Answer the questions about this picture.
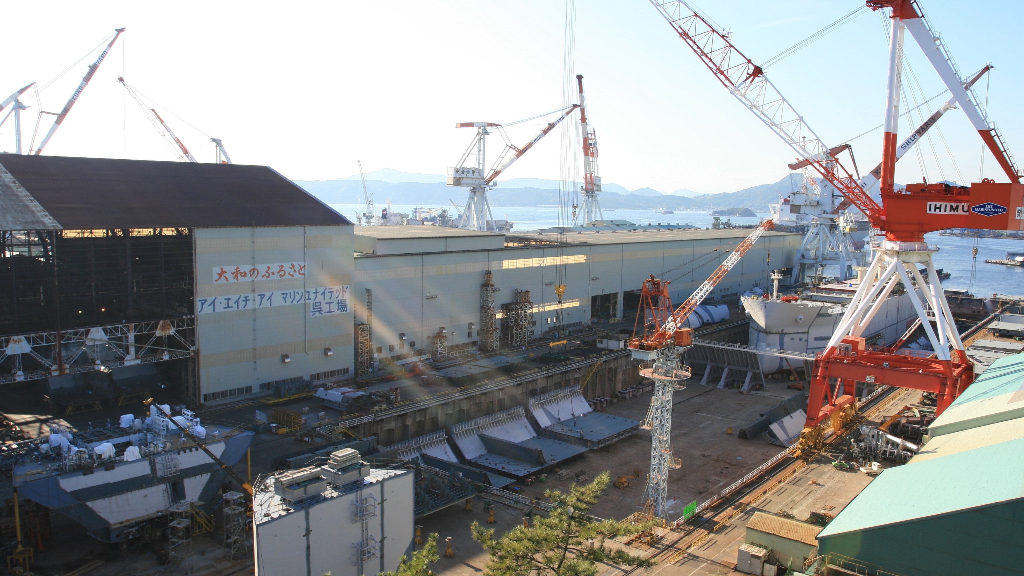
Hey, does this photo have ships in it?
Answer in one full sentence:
Yes, there's a ship down there.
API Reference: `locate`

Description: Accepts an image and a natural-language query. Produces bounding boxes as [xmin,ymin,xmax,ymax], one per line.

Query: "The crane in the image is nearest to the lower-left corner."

[138,394,254,548]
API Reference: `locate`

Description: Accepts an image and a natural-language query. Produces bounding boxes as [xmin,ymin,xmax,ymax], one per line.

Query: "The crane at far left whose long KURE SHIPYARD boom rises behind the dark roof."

[0,28,126,153]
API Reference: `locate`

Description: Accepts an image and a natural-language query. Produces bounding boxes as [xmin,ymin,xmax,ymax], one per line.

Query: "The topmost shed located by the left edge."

[0,151,357,440]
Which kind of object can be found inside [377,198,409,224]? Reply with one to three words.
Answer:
ship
